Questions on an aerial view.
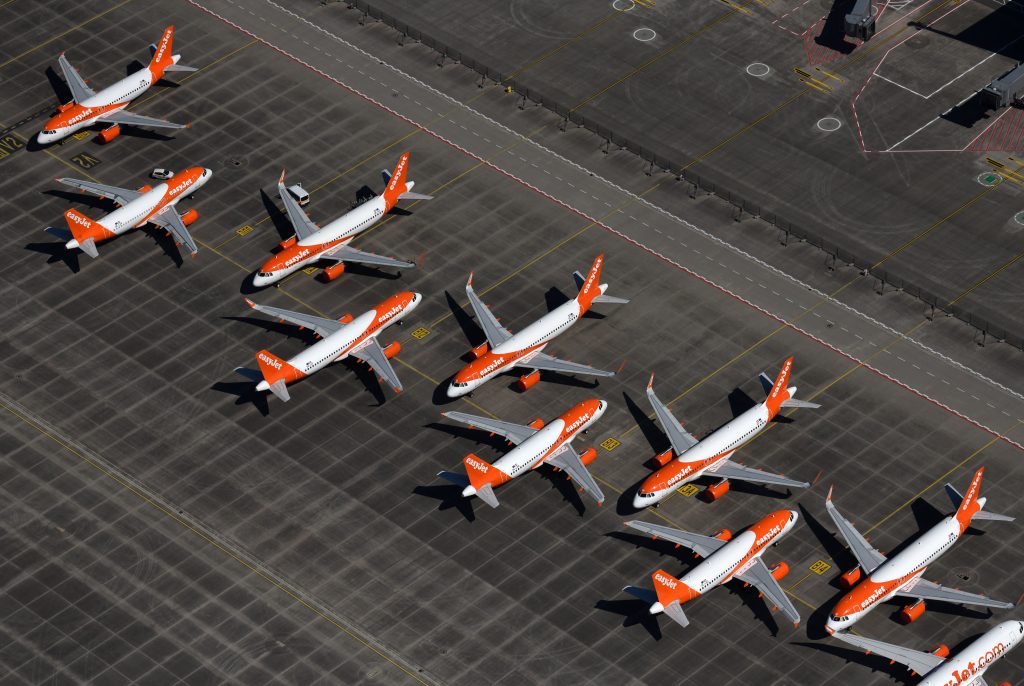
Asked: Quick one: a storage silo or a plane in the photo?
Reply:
plane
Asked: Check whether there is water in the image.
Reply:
No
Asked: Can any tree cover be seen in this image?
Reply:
No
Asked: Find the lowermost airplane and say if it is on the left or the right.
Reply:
right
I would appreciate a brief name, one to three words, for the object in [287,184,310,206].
vehicle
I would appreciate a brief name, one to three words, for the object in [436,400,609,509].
airplane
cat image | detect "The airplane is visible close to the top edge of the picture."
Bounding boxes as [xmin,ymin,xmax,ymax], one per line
[38,26,199,144]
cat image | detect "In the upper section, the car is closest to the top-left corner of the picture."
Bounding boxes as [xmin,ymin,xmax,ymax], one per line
[150,167,174,180]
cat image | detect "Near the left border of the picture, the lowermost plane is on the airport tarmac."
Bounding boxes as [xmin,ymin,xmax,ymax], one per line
[44,168,211,258]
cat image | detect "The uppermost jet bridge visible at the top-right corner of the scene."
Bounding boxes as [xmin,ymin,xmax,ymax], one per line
[844,0,874,40]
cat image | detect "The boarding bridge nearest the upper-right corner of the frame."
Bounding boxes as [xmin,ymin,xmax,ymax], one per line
[980,63,1024,121]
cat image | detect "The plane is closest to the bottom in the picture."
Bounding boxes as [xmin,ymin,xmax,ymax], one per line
[826,620,1023,686]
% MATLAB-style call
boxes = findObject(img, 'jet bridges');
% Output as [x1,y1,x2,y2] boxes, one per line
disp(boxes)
[844,0,874,40]
[980,63,1024,121]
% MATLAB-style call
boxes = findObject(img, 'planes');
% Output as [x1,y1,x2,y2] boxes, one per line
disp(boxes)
[632,355,822,507]
[44,168,211,258]
[38,26,199,144]
[436,400,609,509]
[826,620,1023,686]
[826,466,1024,631]
[232,292,421,402]
[622,512,801,629]
[251,152,435,286]
[445,253,631,396]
